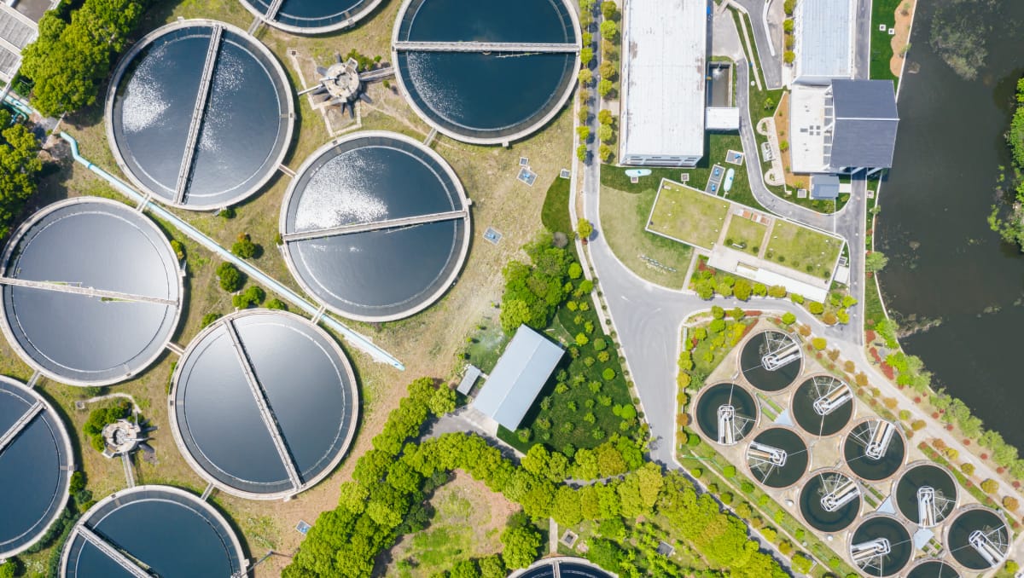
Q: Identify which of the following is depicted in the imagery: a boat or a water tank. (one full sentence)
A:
The one in the frame is a water tank.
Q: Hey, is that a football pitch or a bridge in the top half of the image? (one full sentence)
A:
There is a bridge in the top half of the image.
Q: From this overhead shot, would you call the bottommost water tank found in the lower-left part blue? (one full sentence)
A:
Yes, the bottommost water tank found in the lower-left part is indeed blue.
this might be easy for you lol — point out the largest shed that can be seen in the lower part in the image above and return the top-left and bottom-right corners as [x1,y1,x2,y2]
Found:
[473,324,566,431]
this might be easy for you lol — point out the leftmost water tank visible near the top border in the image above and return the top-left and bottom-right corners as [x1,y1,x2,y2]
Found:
[105,16,298,213]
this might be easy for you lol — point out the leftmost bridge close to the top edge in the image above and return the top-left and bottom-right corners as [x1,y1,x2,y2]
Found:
[175,20,225,208]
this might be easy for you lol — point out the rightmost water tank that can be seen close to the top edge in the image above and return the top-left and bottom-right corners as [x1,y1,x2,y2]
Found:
[392,0,582,149]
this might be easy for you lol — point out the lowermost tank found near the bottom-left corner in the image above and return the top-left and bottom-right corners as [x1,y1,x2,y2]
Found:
[59,483,257,578]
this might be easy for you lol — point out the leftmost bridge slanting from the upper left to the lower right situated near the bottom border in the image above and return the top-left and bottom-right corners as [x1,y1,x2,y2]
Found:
[73,522,158,578]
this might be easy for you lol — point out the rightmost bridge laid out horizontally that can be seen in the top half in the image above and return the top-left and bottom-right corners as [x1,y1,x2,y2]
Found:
[392,43,581,55]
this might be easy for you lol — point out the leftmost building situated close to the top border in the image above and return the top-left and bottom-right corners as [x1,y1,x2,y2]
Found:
[620,0,707,163]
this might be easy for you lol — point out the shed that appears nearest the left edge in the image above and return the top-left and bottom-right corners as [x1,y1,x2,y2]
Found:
[458,365,481,395]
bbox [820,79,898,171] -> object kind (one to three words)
building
